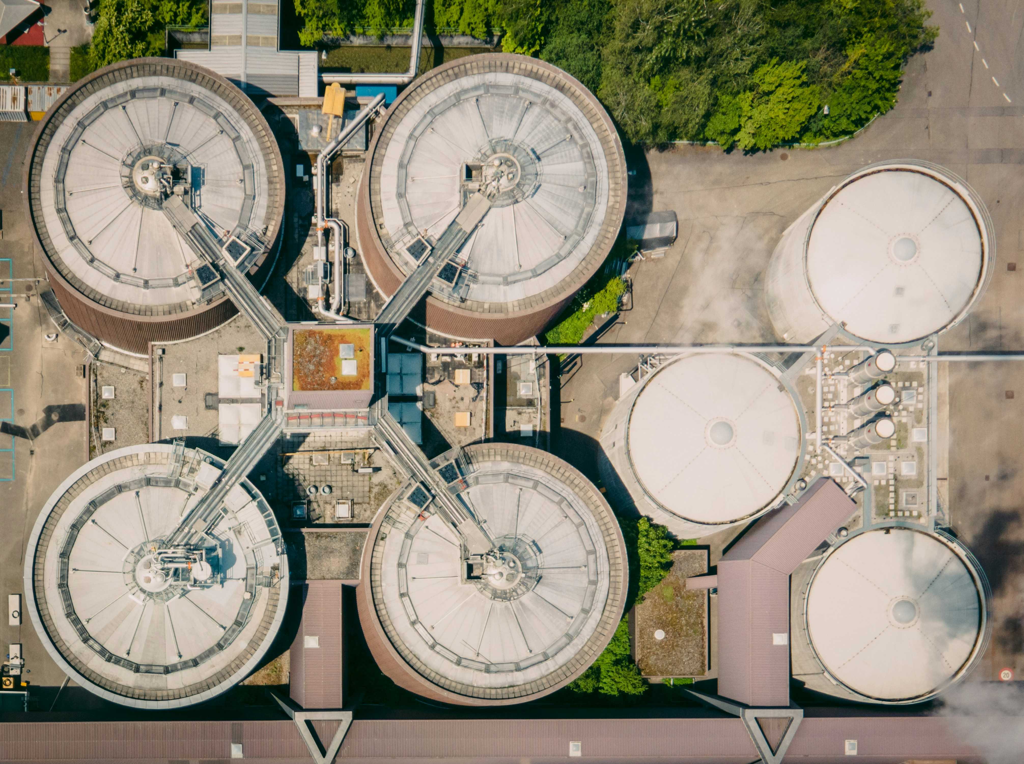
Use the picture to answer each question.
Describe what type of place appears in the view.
industrial area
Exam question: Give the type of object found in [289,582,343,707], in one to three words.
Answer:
building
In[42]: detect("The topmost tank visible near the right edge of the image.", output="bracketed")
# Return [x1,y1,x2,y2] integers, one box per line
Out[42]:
[766,155,999,353]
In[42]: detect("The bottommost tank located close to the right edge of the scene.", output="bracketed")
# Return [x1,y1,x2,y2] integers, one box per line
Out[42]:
[789,517,998,707]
